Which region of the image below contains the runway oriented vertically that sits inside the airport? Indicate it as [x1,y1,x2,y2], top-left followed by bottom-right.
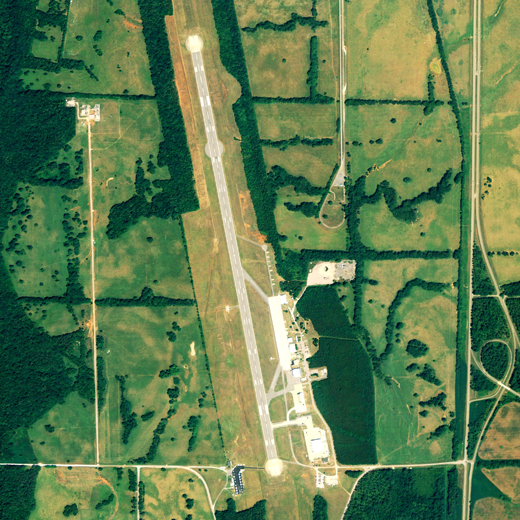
[192,50,278,462]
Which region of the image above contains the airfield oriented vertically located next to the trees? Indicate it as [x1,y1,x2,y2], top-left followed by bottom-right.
[186,36,330,476]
